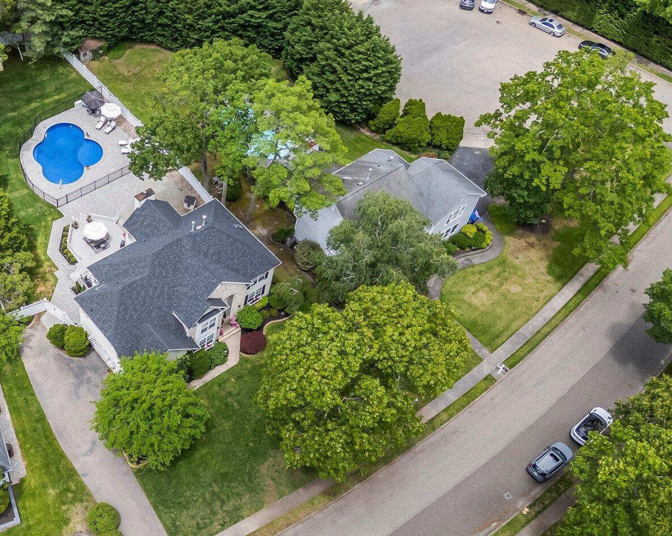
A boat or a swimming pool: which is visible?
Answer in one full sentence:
It is a swimming pool that can be seen here.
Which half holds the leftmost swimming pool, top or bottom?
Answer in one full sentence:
You can find the leftmost swimming pool in the top half.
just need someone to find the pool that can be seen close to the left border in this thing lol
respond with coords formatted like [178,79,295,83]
[32,122,104,185]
